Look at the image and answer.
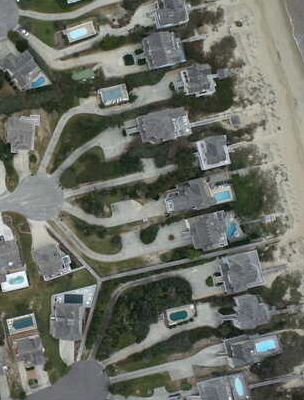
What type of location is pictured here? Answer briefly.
residential area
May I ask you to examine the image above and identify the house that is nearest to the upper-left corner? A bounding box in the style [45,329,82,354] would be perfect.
[0,50,42,91]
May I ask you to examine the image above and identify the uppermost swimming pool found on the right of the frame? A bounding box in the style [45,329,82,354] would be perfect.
[215,185,235,206]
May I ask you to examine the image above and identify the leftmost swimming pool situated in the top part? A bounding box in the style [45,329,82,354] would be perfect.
[26,71,52,91]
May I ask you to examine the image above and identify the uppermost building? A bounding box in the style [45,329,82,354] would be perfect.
[146,0,190,29]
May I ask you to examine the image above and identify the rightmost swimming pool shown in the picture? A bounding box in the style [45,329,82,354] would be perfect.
[254,336,277,353]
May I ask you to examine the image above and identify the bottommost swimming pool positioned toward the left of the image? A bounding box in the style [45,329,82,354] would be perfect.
[6,312,37,335]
